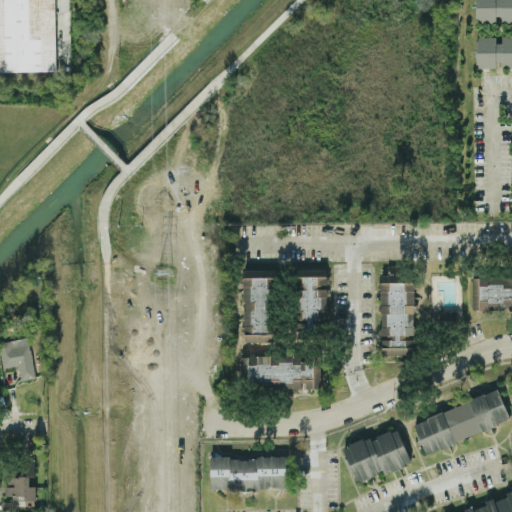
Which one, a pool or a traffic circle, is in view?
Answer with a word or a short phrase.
pool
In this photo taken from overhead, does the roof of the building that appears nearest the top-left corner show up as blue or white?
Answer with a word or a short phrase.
white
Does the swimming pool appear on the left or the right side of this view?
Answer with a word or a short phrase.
right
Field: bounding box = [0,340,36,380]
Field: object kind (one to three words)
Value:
house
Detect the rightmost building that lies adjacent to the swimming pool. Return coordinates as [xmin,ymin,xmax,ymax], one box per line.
[474,278,512,311]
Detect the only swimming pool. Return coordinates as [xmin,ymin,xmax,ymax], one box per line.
[432,275,462,311]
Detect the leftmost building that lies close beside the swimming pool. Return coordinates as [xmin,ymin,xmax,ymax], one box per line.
[380,276,416,358]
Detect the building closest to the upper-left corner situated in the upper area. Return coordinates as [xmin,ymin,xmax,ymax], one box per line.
[0,0,56,72]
